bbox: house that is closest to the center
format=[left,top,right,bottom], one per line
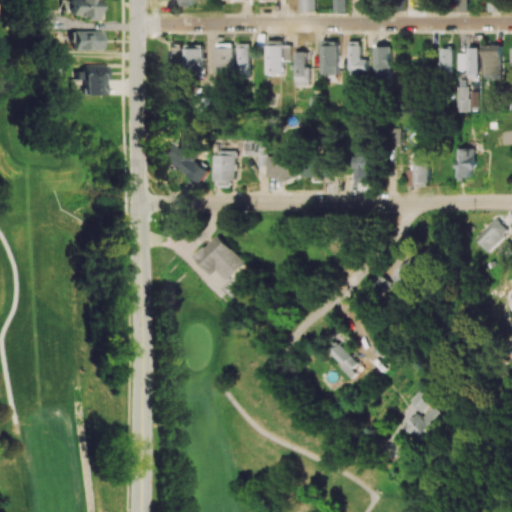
[190,237,243,282]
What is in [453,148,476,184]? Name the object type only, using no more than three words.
house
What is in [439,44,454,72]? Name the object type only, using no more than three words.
house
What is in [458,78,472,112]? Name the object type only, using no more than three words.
shed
